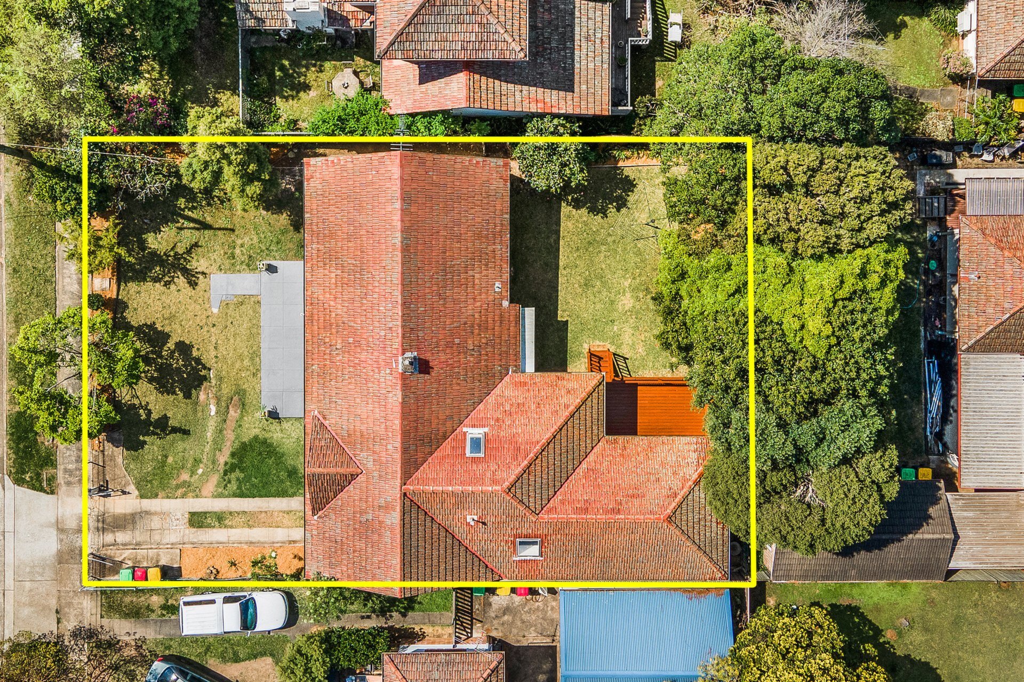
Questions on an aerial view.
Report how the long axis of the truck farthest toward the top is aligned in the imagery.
horizontally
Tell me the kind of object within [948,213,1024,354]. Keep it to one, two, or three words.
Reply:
house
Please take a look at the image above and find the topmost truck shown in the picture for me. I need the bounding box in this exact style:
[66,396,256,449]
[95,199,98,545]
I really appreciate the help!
[177,591,289,640]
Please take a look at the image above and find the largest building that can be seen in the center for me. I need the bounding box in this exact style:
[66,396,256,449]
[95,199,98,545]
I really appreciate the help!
[301,150,731,598]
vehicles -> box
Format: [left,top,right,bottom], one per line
[140,655,227,682]
[177,591,289,640]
